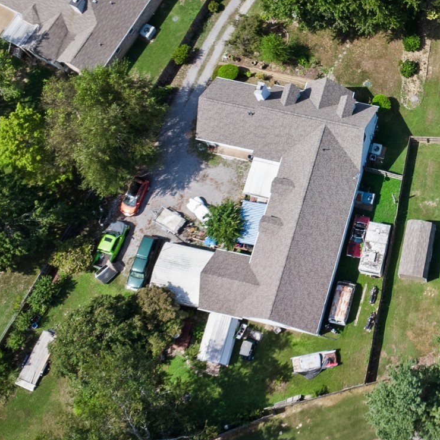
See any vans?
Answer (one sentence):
Yes, there is a van in the image.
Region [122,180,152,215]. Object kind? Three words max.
car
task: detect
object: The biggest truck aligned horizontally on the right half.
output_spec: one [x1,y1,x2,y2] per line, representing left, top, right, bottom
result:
[289,347,344,376]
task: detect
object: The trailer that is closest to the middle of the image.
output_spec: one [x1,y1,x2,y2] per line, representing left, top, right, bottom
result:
[155,202,190,237]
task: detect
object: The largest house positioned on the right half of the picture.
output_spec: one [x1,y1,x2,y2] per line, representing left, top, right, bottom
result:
[195,77,379,338]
